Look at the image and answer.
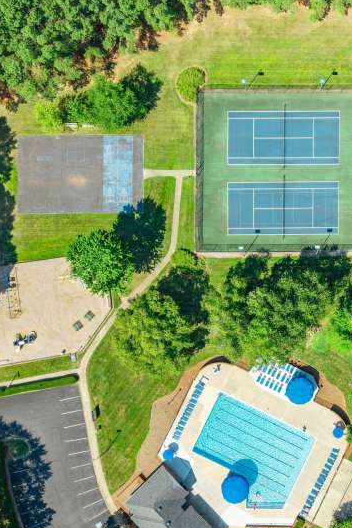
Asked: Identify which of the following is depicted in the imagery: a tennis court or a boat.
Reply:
tennis court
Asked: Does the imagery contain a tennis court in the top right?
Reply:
Yes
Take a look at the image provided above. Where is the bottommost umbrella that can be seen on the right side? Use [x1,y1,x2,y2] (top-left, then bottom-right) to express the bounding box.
[221,474,249,502]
